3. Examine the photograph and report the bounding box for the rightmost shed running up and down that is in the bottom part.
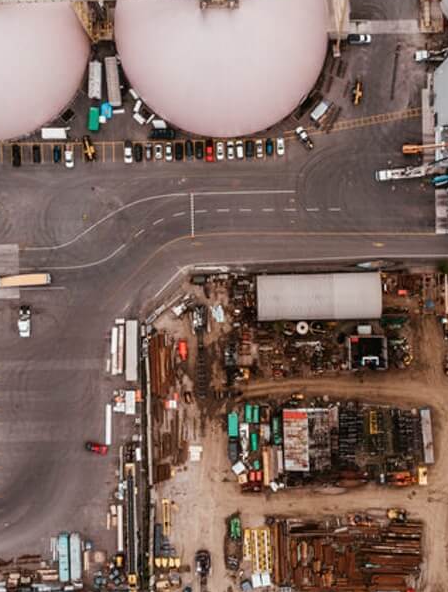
[309,407,338,470]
